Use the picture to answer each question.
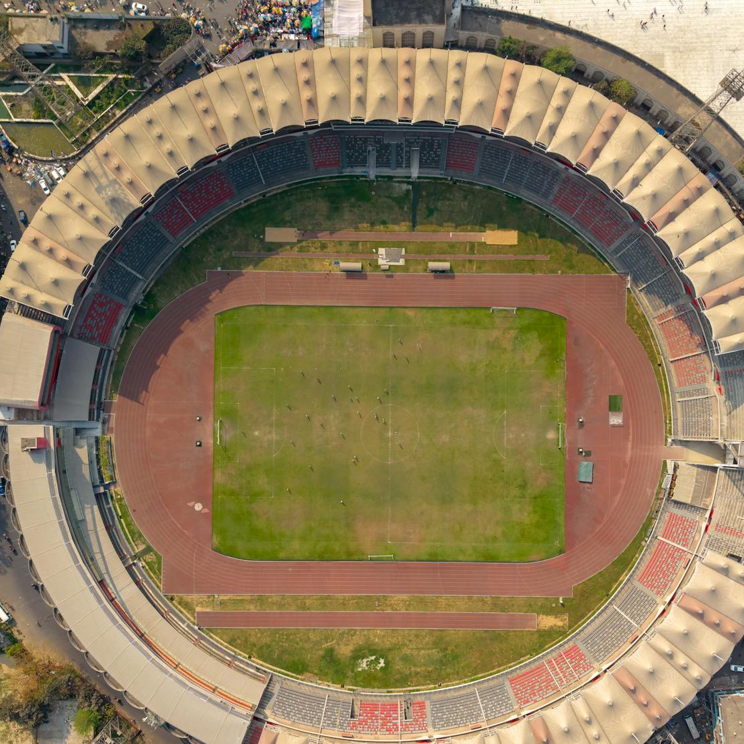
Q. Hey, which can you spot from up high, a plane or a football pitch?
football pitch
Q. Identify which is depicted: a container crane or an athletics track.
athletics track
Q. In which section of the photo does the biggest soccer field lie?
center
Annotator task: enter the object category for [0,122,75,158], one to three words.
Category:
pond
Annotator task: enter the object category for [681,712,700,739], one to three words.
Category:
vehicle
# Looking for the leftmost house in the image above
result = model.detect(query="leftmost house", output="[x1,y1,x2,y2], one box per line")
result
[9,18,71,59]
